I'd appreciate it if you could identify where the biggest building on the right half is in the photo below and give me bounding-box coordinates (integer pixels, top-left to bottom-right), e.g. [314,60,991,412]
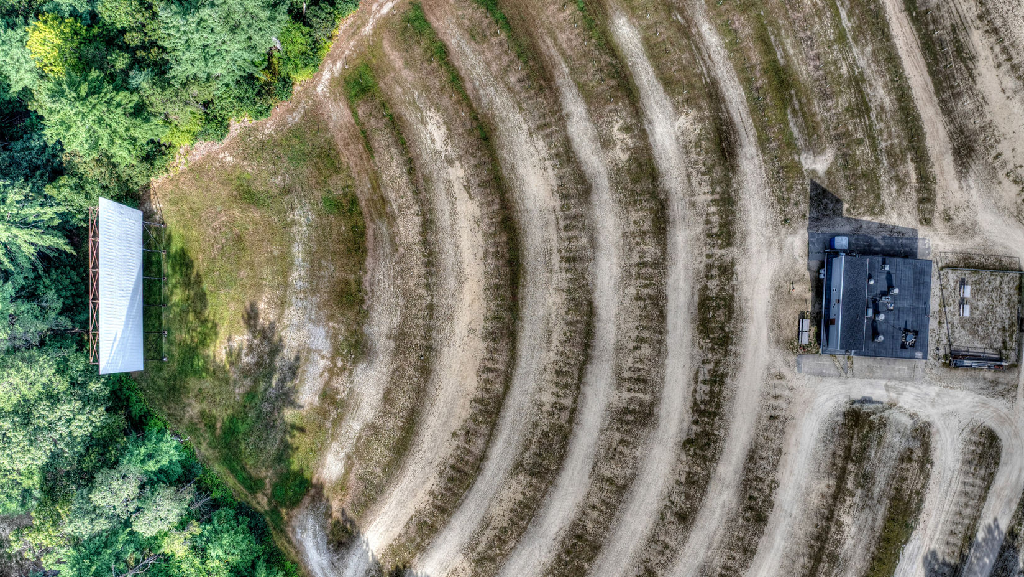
[816,250,932,359]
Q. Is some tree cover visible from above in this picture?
Yes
